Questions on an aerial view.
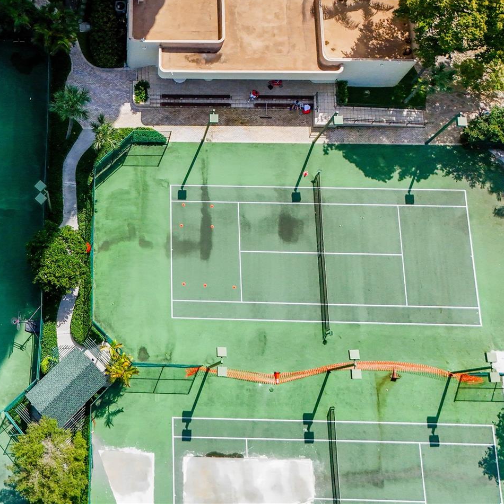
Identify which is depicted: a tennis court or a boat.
tennis court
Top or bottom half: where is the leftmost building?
bottom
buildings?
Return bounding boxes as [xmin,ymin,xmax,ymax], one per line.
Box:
[126,0,416,87]
[12,331,114,432]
